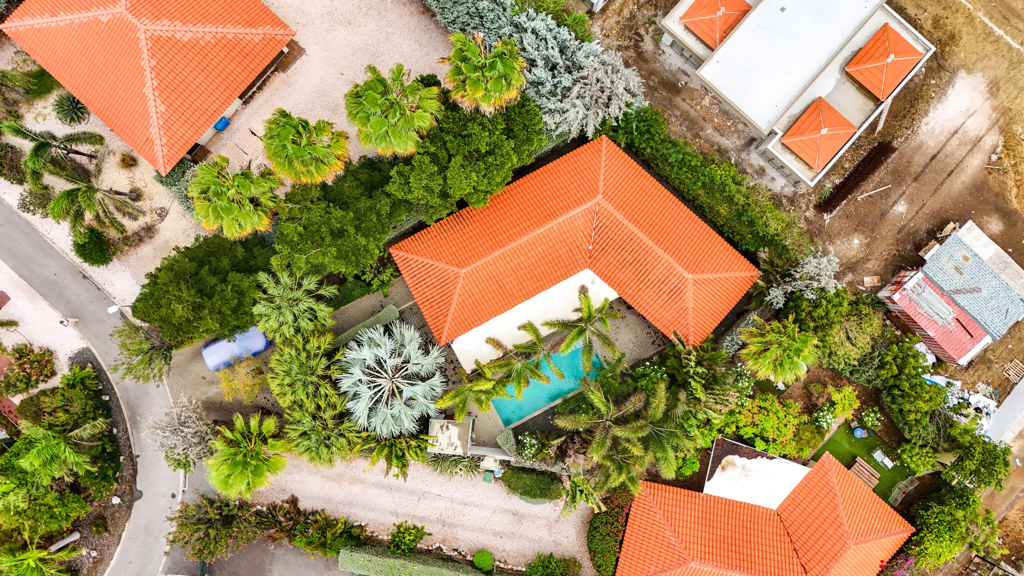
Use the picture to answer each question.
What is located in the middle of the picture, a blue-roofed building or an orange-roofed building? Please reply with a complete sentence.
There is an orange-roofed building in the middle of the picture.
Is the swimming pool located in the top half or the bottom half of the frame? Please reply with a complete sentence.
The swimming pool is in the bottom half of the image.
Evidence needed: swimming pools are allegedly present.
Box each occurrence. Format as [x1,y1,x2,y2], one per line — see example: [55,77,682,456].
[475,326,612,435]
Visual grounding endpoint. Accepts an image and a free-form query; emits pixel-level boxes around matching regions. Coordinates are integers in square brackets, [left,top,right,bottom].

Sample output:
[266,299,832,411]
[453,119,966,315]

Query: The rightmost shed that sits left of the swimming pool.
[427,414,473,456]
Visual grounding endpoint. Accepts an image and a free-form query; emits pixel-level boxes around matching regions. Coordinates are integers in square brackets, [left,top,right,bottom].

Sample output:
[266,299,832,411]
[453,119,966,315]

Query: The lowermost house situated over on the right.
[616,437,919,576]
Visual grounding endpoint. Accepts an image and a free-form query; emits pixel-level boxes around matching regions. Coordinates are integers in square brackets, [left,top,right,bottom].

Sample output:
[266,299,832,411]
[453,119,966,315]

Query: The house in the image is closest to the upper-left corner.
[0,0,308,177]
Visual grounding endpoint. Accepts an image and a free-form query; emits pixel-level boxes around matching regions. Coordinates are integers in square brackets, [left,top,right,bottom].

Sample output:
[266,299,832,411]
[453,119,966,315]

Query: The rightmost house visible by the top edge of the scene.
[658,0,936,188]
